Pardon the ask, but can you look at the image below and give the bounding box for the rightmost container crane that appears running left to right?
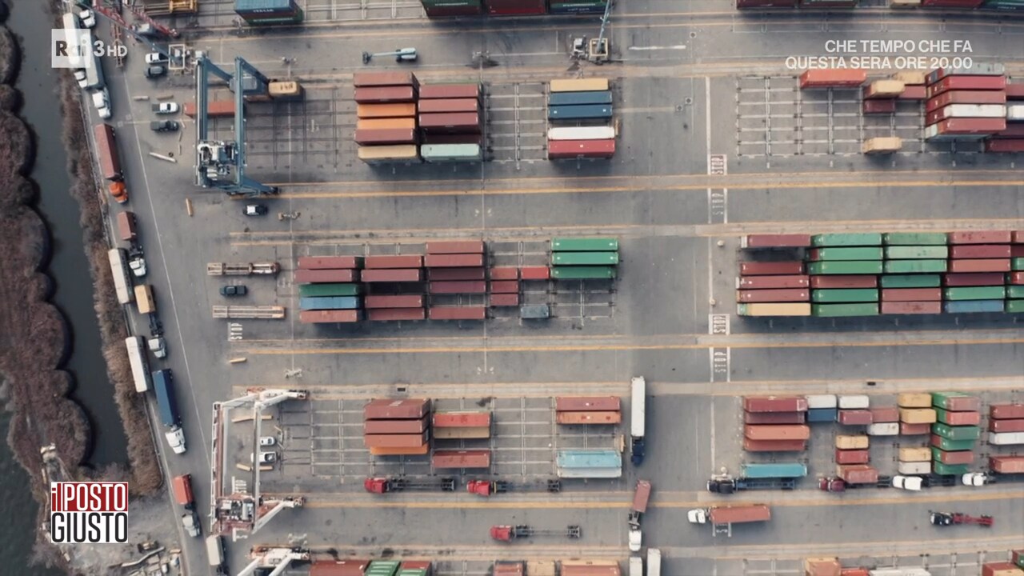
[223,549,303,576]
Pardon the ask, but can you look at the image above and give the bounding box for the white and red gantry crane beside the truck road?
[212,389,301,542]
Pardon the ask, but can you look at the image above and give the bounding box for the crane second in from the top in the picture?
[192,47,282,194]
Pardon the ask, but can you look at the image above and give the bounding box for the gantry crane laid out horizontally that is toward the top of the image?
[77,0,186,39]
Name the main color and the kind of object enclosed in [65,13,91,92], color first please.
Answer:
white truck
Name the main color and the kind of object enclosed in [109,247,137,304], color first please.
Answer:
white trailer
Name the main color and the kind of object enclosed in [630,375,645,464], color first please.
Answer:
white vehicle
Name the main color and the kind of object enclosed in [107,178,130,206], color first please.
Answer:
red truck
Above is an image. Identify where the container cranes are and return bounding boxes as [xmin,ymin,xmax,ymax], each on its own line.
[192,47,282,194]
[212,389,301,542]
[223,549,303,576]
[77,0,186,39]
